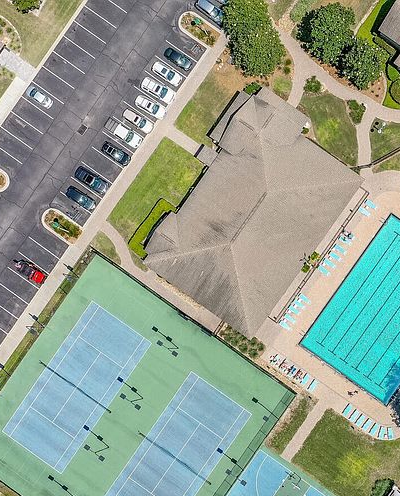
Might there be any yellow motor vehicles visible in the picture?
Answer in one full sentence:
No, there is no yellow motor vehicle in the image.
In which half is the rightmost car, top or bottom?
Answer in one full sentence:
The rightmost car sits in the top half of the picture.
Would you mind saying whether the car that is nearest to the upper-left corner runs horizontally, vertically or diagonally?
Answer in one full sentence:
Seen from above, the car that is nearest to the upper-left corner lies diagonally.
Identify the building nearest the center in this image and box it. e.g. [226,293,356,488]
[143,86,361,337]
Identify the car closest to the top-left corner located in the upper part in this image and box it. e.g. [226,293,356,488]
[25,84,57,111]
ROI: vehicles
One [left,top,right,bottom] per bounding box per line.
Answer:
[100,140,132,167]
[193,0,223,24]
[13,257,48,285]
[25,84,57,111]
[150,59,184,87]
[105,116,143,148]
[133,92,167,121]
[162,45,194,72]
[141,75,176,105]
[75,166,109,193]
[122,108,155,135]
[65,185,96,212]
